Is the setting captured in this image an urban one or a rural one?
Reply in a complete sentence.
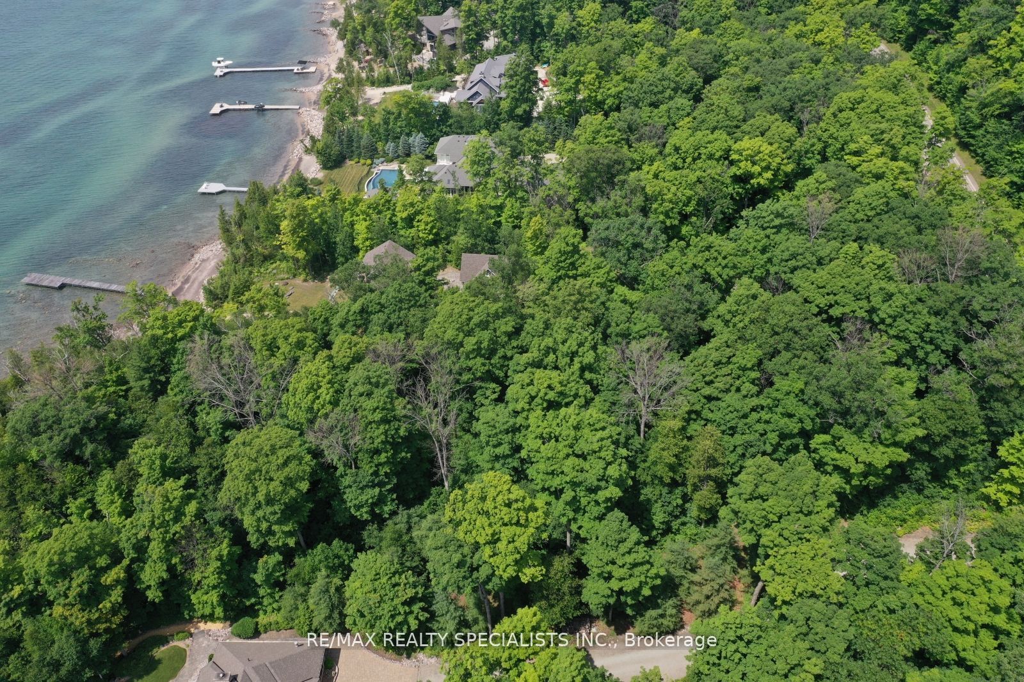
The area is rural.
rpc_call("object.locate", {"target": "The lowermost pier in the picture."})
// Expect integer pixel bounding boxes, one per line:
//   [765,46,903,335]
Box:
[21,273,149,297]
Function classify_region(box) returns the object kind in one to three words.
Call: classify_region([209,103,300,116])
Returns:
pier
